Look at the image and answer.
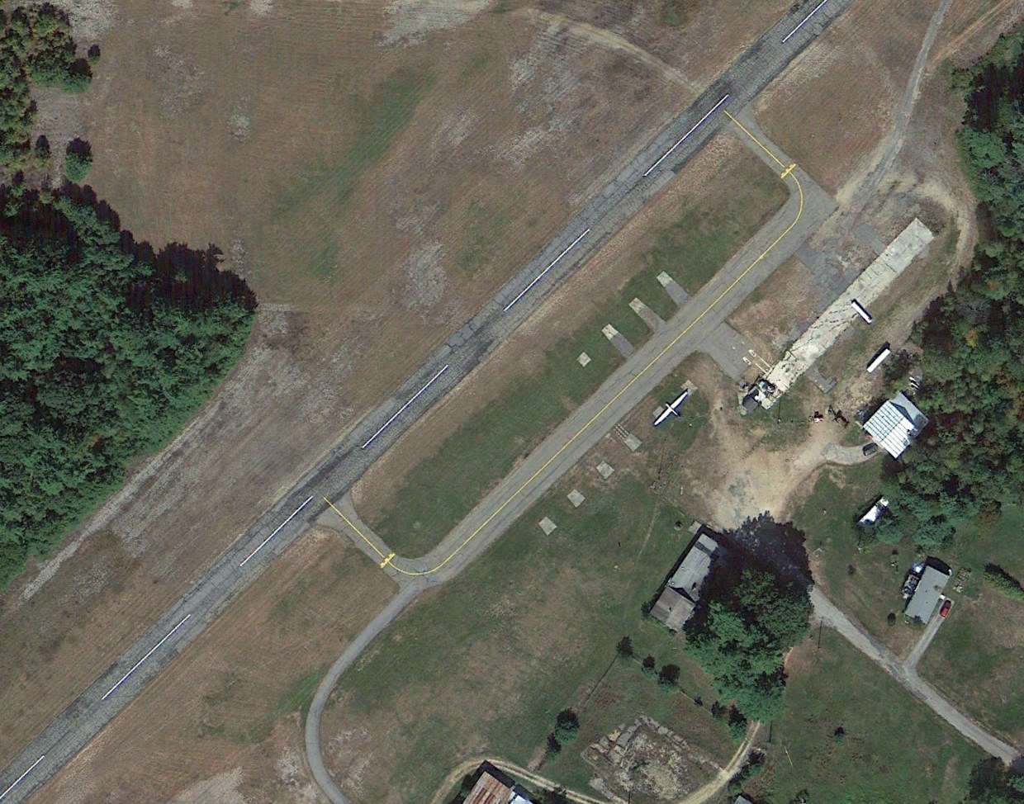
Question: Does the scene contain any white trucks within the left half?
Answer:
No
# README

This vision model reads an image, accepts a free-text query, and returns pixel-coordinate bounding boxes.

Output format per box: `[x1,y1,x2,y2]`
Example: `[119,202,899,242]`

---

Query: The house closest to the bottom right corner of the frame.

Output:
[906,564,951,624]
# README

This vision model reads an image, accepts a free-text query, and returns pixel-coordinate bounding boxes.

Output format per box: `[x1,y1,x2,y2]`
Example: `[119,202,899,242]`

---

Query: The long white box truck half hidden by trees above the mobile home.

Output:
[857,500,889,525]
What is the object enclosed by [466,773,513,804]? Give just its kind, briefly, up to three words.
barn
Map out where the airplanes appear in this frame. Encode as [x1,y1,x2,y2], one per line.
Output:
[655,391,687,426]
